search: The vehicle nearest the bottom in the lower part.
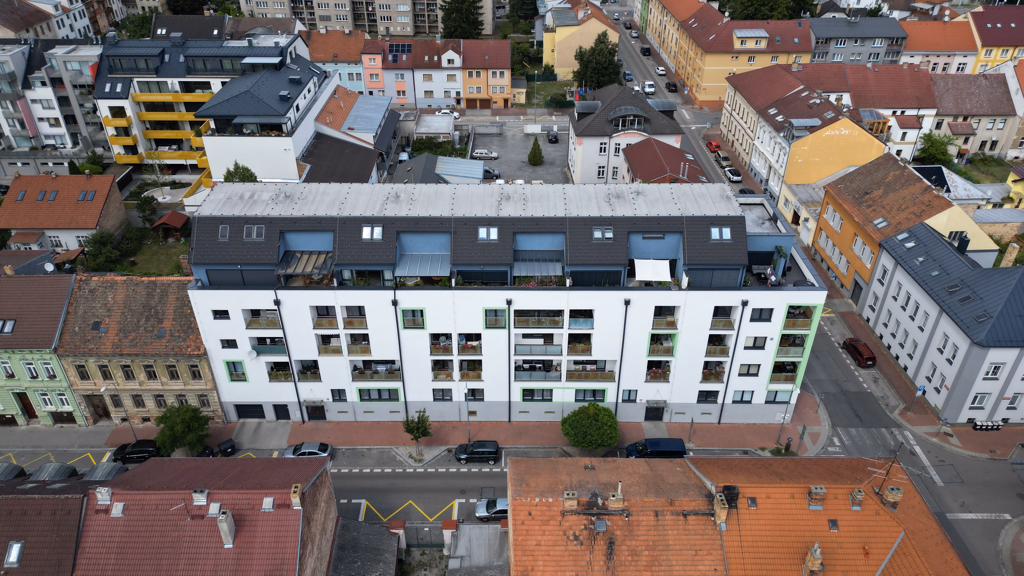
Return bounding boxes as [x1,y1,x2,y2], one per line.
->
[477,492,508,520]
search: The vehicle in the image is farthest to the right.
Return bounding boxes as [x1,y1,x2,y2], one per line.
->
[844,341,879,371]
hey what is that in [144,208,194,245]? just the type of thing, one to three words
gazebo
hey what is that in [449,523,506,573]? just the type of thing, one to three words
shed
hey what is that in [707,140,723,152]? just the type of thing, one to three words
vehicle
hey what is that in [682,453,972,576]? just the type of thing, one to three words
house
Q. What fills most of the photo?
buildings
